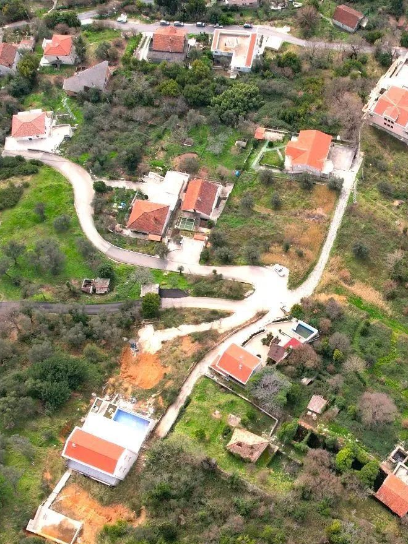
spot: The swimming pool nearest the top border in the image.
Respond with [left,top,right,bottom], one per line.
[292,320,318,341]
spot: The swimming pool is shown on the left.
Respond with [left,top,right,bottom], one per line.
[112,407,152,435]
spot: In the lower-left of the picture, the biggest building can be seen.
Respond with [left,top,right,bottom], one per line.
[62,397,159,479]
